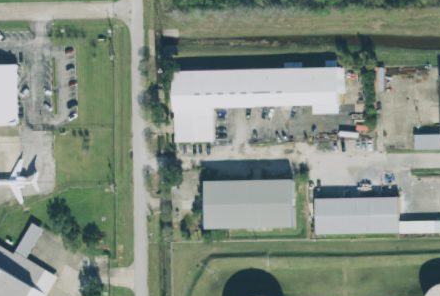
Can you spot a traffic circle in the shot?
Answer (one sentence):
No, the frame has no traffic circle in it.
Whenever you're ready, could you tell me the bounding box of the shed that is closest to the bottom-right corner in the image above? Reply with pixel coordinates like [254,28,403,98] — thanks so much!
[399,220,440,234]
